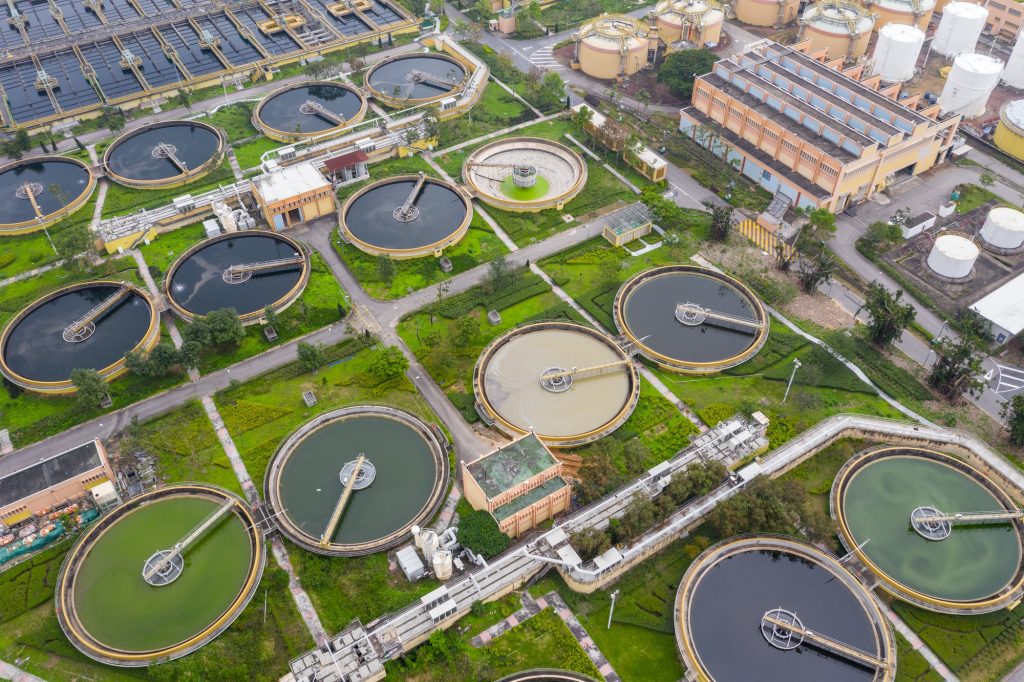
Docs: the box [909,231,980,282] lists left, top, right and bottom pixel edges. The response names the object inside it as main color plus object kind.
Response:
white storage tank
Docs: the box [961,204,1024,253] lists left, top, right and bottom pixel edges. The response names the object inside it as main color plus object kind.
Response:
white storage tank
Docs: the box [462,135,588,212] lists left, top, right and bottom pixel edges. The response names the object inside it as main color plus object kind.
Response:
white water tank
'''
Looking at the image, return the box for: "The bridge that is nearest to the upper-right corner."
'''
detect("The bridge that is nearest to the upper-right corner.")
[679,301,769,335]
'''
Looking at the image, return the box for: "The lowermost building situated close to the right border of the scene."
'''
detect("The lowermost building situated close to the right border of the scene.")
[968,274,1024,355]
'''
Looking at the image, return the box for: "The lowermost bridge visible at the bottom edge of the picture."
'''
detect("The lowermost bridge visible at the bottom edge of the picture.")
[766,609,896,677]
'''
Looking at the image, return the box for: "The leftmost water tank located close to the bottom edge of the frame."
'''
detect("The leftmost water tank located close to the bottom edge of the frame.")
[56,482,267,667]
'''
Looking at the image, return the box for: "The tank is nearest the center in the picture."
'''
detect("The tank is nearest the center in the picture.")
[474,319,640,448]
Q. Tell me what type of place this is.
industrial area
